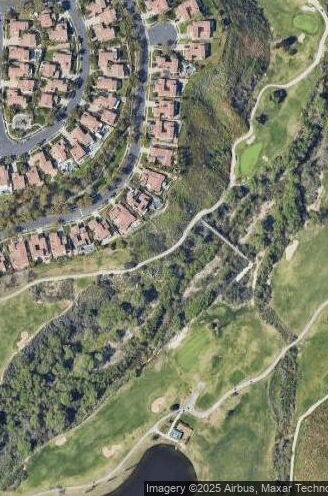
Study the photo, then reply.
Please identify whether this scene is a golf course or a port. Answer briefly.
golf course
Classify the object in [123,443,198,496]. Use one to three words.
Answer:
pond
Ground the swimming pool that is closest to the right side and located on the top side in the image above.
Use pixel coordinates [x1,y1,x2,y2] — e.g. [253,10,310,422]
[183,61,198,78]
